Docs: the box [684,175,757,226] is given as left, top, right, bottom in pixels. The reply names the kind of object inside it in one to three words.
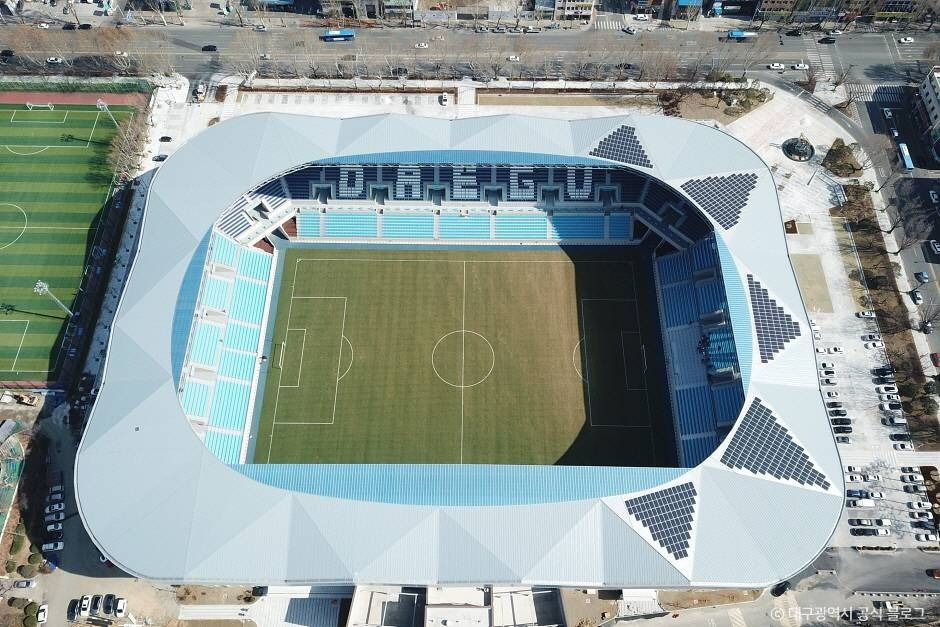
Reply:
solar array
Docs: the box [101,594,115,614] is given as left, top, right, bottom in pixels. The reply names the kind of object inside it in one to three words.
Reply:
vehicle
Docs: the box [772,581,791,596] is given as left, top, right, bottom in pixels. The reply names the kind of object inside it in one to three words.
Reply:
car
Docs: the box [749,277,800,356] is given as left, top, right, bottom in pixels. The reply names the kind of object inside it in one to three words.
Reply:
solar array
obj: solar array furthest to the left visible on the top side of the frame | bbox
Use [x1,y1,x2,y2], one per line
[592,127,654,161]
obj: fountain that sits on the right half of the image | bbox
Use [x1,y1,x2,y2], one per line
[780,136,816,163]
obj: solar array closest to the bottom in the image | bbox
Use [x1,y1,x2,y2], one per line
[627,479,700,557]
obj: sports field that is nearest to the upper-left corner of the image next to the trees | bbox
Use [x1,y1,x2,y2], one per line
[0,95,146,386]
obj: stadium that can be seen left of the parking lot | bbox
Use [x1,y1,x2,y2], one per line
[74,112,845,588]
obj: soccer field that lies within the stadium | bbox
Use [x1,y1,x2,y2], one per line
[255,249,669,468]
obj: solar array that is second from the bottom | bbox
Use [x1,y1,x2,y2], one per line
[725,397,827,494]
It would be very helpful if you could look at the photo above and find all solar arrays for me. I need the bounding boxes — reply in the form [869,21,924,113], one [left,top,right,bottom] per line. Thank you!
[749,277,800,356]
[684,175,757,226]
[627,479,700,557]
[592,127,654,161]
[725,397,827,494]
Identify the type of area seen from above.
sports ground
